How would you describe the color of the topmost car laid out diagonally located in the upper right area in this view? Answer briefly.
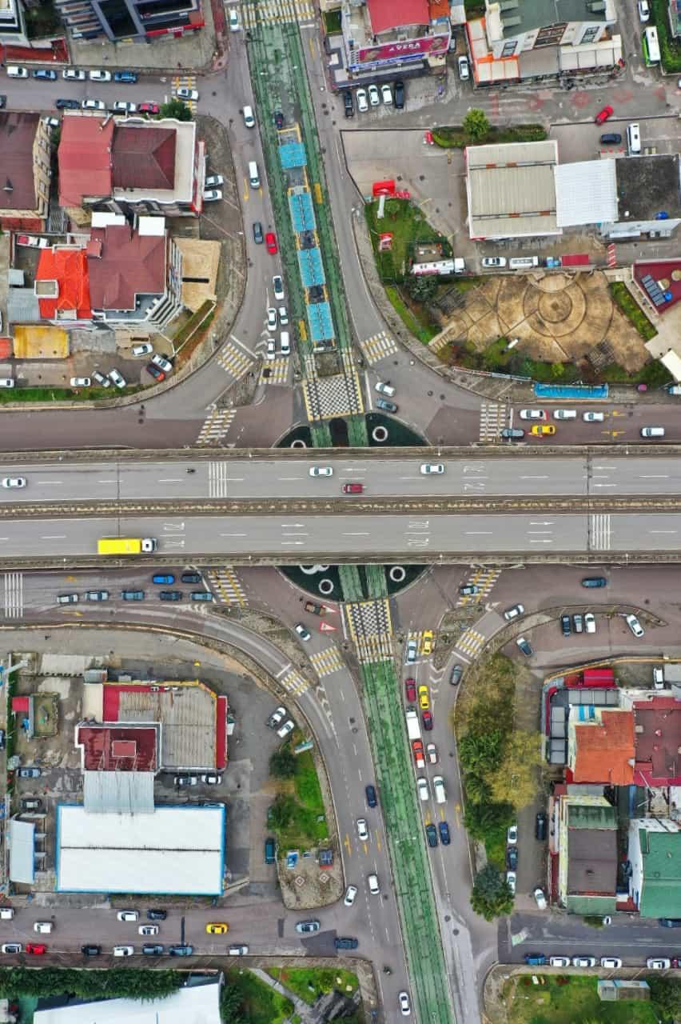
red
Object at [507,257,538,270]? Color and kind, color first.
white vehicle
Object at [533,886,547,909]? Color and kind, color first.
white car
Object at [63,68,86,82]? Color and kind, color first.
white car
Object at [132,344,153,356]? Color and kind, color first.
white vehicle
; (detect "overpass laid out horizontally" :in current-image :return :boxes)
[0,444,681,567]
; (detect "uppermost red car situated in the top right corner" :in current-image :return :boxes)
[594,105,614,127]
